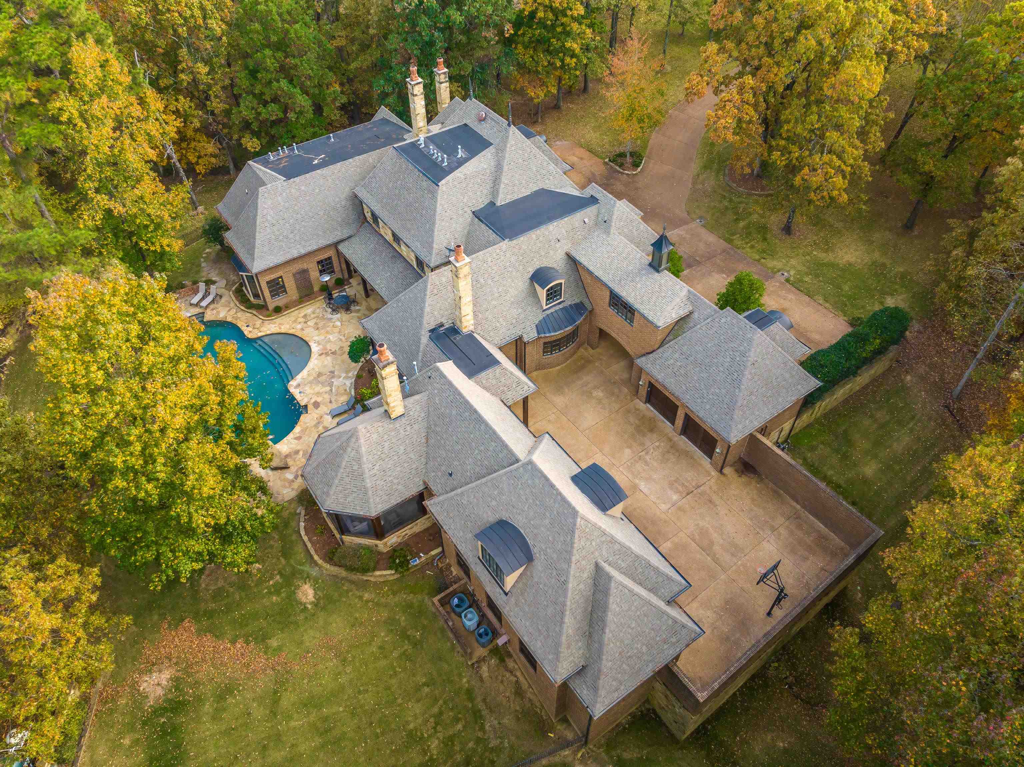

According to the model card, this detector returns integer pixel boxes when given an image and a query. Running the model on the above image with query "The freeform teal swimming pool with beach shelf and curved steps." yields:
[187,313,310,443]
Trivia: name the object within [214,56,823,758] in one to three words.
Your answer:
house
